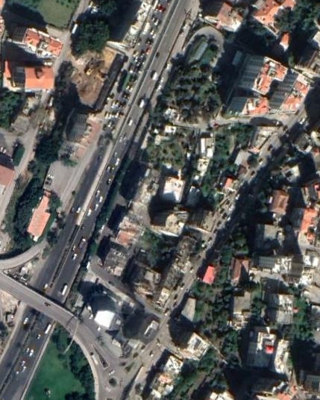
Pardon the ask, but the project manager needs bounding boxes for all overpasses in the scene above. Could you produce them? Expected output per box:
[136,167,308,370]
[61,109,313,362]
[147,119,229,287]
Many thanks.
[0,267,112,354]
